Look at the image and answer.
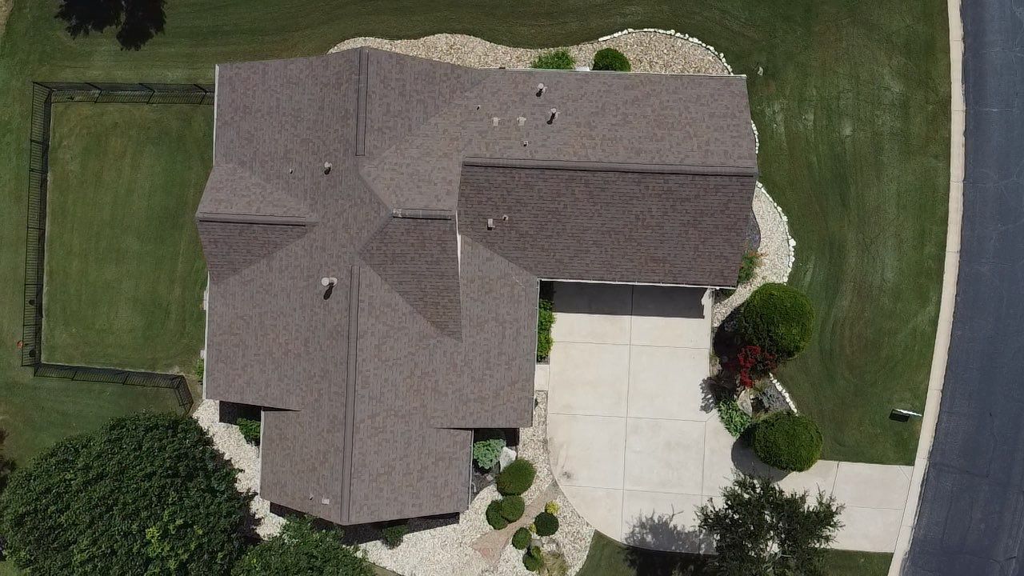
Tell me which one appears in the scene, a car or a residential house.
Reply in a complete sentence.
The image shows a residential house.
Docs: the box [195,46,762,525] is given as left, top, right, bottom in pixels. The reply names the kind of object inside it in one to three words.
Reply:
house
